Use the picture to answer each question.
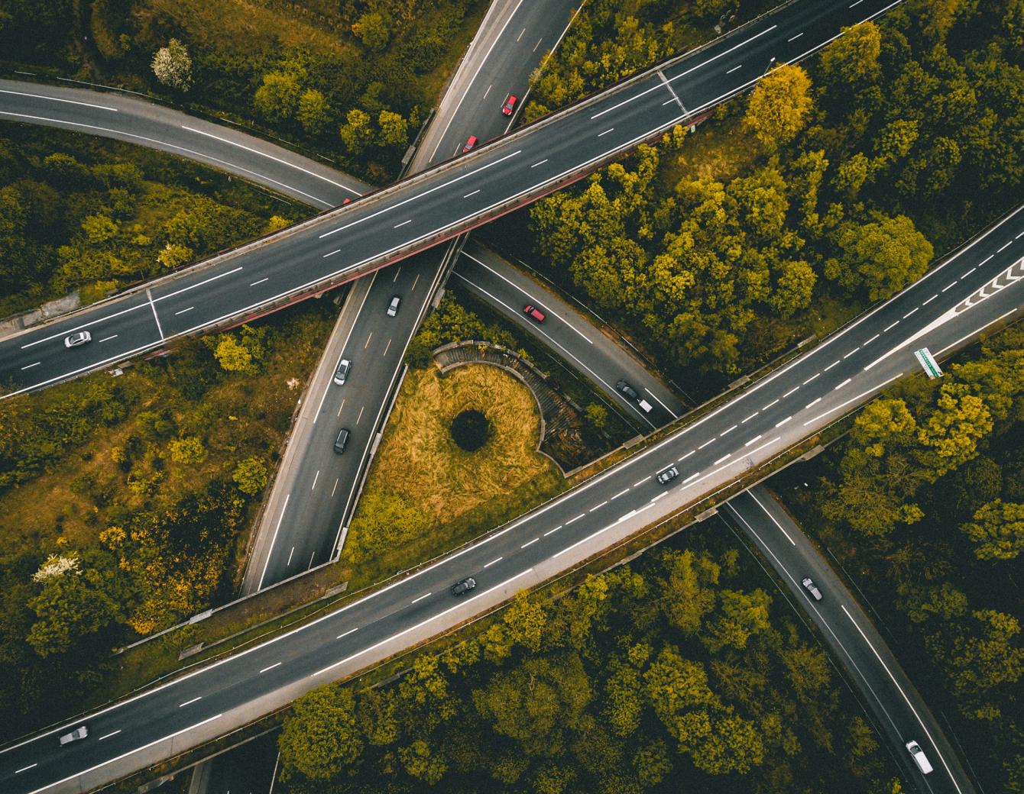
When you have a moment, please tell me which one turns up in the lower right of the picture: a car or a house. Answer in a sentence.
There is a car in the lower right of the picture.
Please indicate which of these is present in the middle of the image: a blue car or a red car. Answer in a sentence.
You can see a red car in the middle of the image.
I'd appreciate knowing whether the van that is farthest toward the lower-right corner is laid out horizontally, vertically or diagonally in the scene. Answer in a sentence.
The van that is farthest toward the lower-right corner runs diagonally in the image.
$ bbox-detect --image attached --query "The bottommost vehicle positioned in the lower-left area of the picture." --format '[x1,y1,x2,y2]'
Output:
[56,726,87,748]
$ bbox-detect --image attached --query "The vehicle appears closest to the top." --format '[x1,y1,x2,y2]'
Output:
[501,90,519,115]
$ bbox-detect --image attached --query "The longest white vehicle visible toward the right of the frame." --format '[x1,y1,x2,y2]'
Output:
[906,740,941,779]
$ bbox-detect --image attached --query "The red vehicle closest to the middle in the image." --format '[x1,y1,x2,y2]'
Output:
[522,304,547,323]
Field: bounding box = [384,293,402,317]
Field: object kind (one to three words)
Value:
car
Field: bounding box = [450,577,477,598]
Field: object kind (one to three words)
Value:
car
